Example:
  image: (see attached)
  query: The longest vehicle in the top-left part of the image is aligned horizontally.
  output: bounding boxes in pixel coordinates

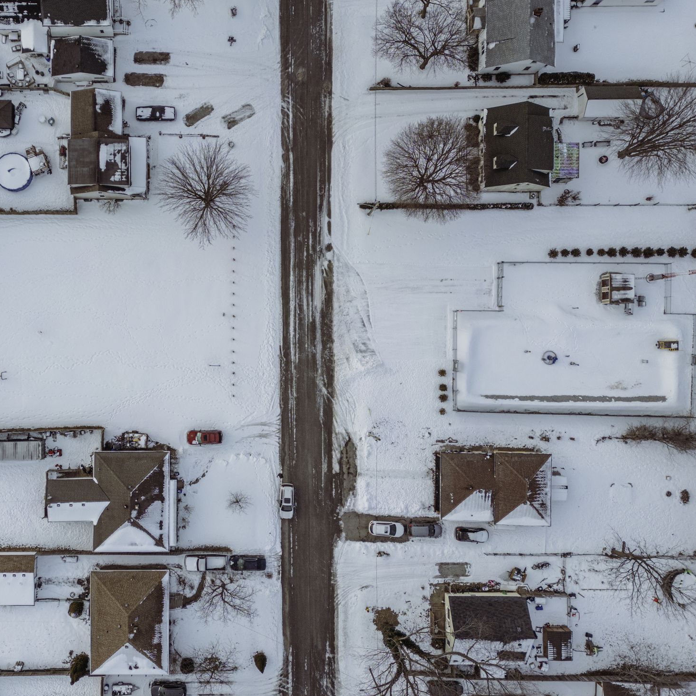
[136,101,175,121]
